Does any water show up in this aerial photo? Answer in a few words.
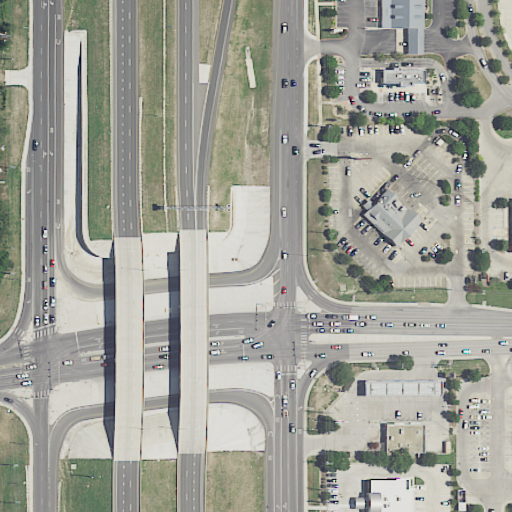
No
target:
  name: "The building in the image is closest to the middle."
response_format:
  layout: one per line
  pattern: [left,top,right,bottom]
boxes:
[366,190,420,244]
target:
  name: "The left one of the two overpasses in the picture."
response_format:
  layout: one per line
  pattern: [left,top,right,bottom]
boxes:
[112,237,142,462]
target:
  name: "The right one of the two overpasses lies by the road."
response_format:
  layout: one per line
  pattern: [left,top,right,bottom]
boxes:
[178,230,207,456]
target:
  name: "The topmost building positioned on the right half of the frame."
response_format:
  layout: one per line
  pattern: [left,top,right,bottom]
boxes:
[382,0,426,54]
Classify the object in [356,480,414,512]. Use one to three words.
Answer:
building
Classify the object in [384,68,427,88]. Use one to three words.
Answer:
building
